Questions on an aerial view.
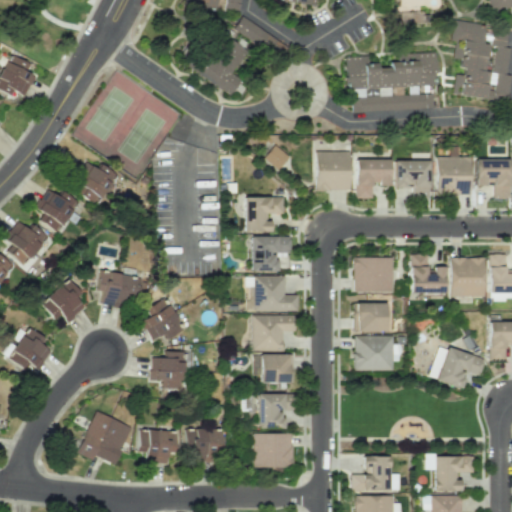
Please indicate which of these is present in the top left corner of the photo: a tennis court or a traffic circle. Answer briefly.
tennis court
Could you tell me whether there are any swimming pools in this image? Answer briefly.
Yes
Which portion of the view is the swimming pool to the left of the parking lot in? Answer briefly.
left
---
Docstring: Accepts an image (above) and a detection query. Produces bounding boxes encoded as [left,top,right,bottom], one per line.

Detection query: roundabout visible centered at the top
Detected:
[270,62,328,120]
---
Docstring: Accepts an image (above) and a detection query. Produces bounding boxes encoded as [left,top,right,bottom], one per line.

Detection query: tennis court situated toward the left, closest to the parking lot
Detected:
[106,94,179,180]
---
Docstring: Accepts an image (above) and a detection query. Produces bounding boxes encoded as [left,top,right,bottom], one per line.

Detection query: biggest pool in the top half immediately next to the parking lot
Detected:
[220,156,234,183]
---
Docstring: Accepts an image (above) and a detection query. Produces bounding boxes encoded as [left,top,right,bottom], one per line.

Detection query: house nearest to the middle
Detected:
[246,237,292,272]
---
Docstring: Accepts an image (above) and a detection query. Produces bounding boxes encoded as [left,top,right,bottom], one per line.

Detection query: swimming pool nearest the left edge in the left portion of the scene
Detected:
[98,246,118,266]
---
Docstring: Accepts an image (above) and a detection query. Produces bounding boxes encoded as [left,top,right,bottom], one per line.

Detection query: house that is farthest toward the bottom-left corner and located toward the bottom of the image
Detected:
[78,412,130,468]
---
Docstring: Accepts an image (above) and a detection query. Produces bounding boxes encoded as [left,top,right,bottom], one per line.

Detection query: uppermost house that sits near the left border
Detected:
[0,51,37,100]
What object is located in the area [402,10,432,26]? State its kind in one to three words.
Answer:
building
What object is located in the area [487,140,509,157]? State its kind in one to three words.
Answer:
swimming pool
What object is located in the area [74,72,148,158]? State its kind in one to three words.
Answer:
tennis court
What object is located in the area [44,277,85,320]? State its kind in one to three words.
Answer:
house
